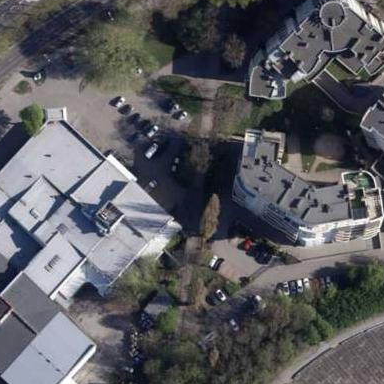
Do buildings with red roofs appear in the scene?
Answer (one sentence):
No, I can see no building with a red roof in this picture.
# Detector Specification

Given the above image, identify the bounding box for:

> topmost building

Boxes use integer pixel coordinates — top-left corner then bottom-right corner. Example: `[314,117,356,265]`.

[250,0,384,105]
